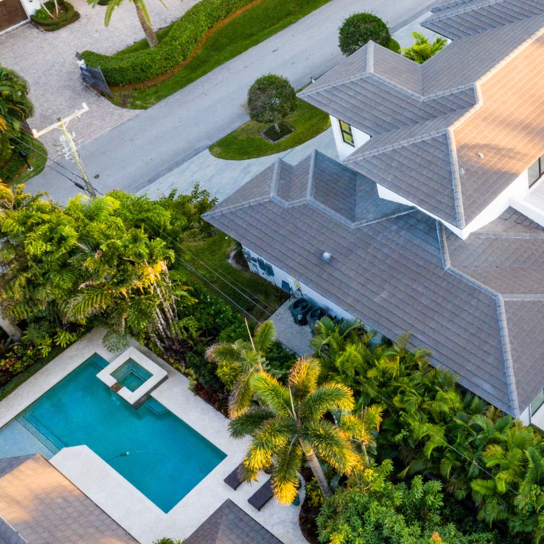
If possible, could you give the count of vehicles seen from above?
none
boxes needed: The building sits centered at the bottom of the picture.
[181,496,284,544]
